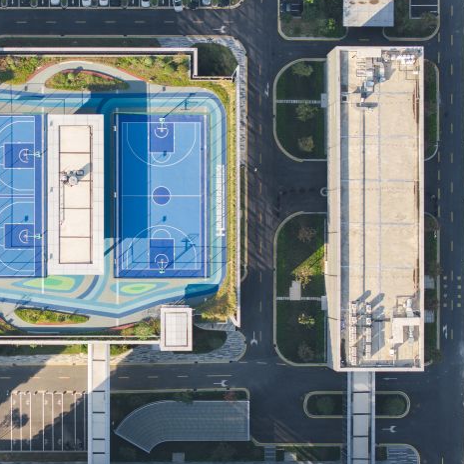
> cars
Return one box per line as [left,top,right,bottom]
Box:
[201,0,210,5]
[81,0,91,7]
[111,0,120,6]
[20,0,30,6]
[98,0,108,6]
[218,0,227,6]
[172,0,183,12]
[189,0,198,8]
[51,0,60,5]
[141,0,150,7]
[277,1,302,12]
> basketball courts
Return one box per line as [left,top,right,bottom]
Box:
[0,114,48,277]
[113,112,211,278]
